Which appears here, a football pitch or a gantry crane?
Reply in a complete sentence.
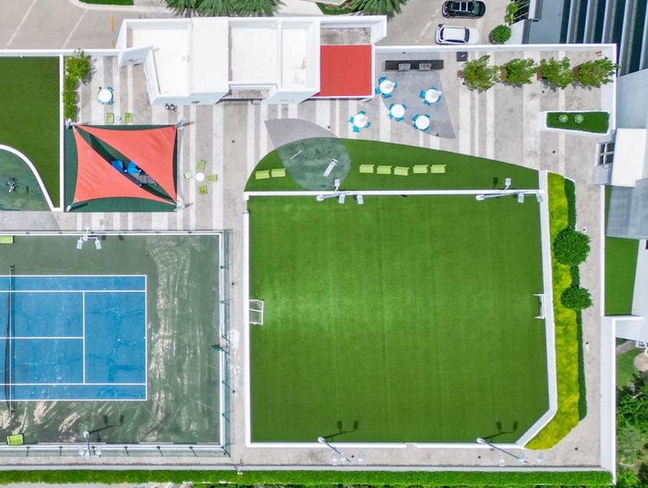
I can see a football pitch in this picture.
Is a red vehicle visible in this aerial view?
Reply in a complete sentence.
No, I can see no red vehicle in this picture.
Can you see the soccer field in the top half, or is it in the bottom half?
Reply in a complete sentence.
The soccer field sits in the bottom half of the picture.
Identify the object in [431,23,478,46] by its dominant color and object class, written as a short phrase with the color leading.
white car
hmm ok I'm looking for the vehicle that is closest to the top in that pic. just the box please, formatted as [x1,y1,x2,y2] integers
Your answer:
[438,0,484,20]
